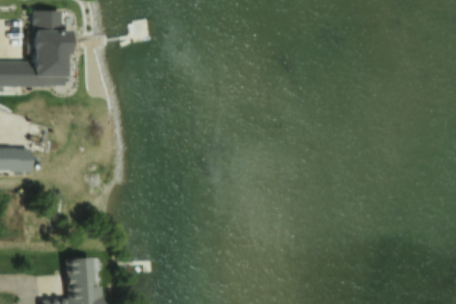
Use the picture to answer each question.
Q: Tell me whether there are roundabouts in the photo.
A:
No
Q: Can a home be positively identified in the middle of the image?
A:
No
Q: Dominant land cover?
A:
water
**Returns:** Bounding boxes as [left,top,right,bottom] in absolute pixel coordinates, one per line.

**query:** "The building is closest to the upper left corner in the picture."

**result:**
[0,11,76,86]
